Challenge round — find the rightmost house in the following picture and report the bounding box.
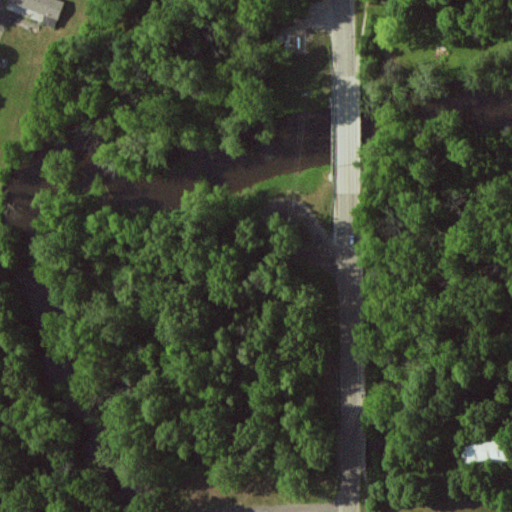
[464,444,509,464]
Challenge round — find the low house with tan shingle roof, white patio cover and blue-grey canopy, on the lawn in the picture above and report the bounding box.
[1,0,63,28]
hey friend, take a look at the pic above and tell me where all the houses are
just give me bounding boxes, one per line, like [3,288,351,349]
[1,0,63,28]
[464,444,509,464]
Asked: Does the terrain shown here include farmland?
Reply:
No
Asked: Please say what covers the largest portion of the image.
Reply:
trees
